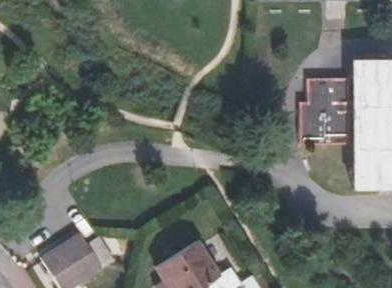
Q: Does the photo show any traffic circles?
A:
No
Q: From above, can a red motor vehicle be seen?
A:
No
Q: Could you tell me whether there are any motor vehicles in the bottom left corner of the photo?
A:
Yes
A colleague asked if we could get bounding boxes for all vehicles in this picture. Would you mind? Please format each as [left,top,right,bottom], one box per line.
[66,208,94,240]
[29,230,50,249]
